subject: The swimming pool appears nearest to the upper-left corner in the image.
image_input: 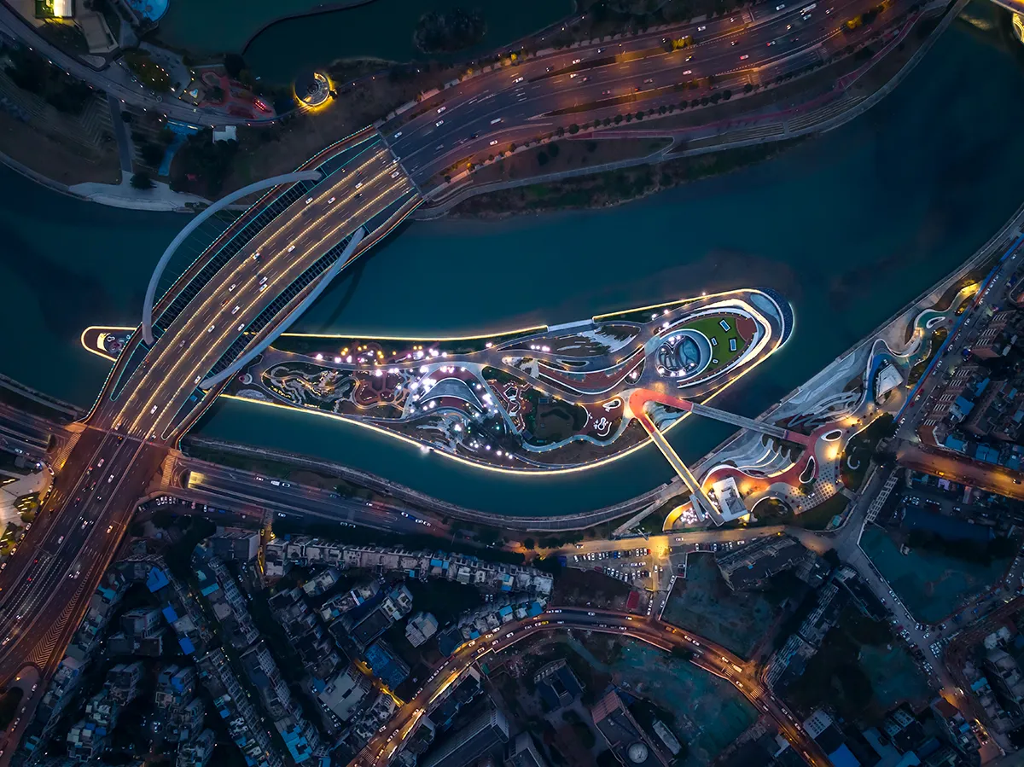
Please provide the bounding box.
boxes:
[124,0,171,22]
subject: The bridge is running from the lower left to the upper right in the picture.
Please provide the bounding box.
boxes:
[80,124,425,451]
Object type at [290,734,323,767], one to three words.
building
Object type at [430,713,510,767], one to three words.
building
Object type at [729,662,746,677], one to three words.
vehicle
